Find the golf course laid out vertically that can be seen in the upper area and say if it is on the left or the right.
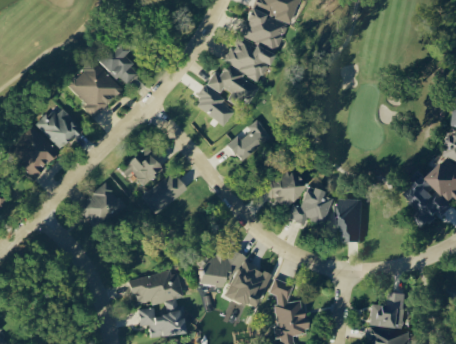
right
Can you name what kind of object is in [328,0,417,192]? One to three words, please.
golf course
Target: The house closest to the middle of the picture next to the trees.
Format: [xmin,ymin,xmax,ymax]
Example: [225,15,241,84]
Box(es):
[228,124,265,160]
